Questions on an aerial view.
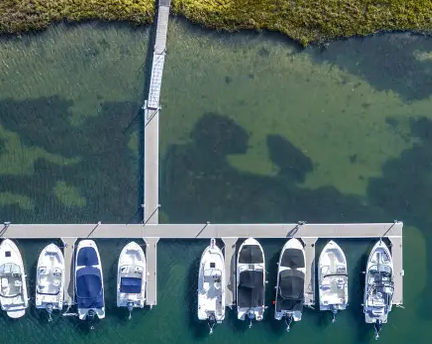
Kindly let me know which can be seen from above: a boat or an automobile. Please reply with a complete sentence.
The one in the frame is a boat.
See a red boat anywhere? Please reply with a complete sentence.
No, I find no red boat anywhere in the image.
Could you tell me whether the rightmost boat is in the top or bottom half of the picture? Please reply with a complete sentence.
The rightmost boat is in the bottom half of the image.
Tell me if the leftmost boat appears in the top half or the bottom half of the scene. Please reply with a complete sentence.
It is in the bottom half that the leftmost boat appears.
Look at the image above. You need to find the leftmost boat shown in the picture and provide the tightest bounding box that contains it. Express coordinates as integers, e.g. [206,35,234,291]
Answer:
[0,239,32,318]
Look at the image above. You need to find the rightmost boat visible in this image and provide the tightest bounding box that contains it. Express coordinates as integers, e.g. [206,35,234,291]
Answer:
[358,236,392,334]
